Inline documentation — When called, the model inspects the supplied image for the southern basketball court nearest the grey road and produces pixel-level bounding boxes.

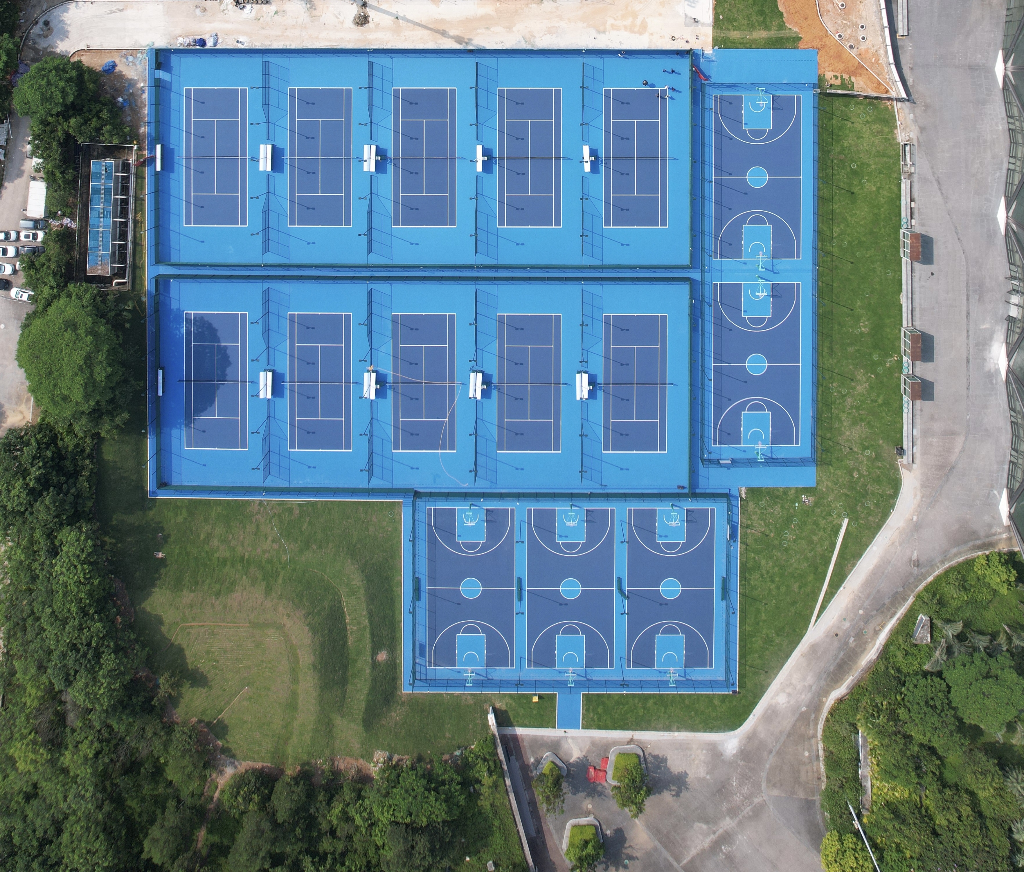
[626,508,716,669]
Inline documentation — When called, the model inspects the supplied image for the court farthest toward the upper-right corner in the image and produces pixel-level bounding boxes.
[713,95,801,259]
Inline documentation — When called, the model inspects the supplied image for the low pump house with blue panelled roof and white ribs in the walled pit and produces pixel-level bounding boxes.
[87,161,138,289]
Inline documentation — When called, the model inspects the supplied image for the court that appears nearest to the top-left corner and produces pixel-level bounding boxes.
[184,88,248,226]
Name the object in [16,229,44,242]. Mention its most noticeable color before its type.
white vehicle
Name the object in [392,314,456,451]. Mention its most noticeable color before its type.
blue tennis court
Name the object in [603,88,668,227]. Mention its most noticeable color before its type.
blue tennis court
